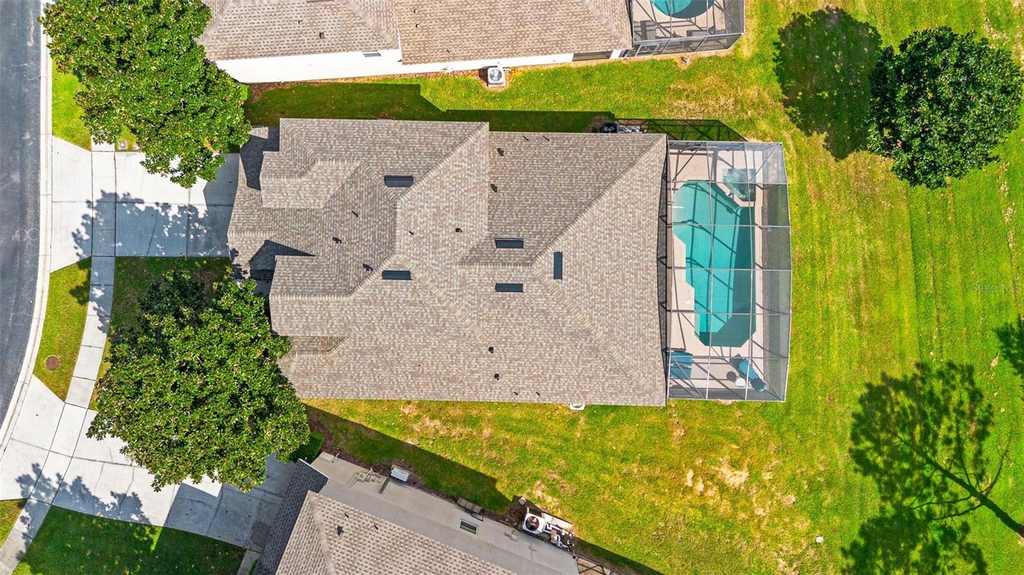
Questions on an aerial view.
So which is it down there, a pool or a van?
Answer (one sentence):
Of the two, only a pool appears.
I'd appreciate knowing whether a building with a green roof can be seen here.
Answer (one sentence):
No, there isn't any building with a green roof down there.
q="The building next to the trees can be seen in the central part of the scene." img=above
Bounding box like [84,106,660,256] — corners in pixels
[227,118,669,406]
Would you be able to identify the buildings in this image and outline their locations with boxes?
[176,0,632,84]
[250,452,581,575]
[227,118,669,406]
